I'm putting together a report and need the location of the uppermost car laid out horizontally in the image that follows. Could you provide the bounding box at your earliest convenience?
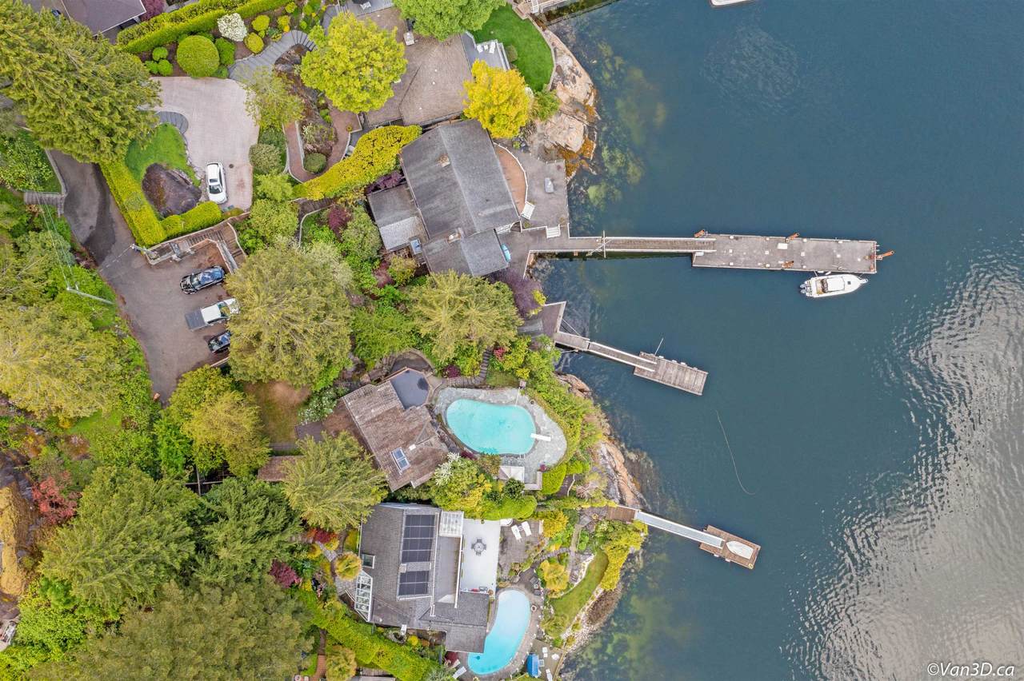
[180,266,229,294]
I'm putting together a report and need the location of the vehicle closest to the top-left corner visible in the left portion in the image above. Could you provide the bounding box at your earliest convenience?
[205,161,232,205]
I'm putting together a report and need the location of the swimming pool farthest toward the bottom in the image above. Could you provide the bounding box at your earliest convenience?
[465,586,534,679]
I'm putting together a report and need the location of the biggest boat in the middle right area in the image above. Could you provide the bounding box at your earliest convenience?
[796,276,871,299]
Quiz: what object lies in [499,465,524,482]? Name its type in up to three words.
building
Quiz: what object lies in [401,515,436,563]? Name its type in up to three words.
solar array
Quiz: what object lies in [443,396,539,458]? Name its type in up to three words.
swimming pool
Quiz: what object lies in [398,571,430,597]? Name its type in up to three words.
solar array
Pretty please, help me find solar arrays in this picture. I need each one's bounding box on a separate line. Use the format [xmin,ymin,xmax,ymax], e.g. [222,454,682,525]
[401,515,436,563]
[398,571,430,597]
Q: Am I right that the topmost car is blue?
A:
No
